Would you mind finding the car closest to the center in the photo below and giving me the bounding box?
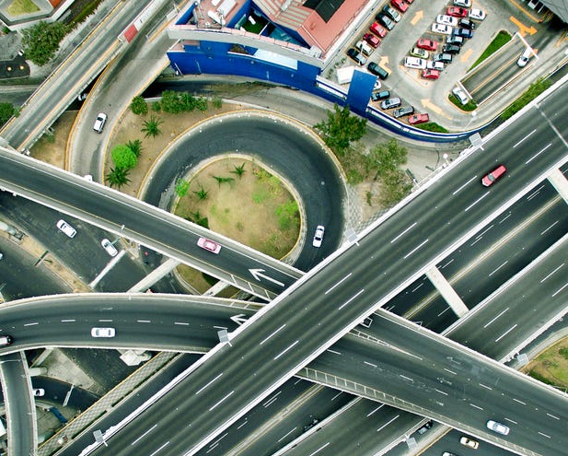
[312,225,325,249]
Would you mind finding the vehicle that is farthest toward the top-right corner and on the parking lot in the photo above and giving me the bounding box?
[516,46,532,69]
